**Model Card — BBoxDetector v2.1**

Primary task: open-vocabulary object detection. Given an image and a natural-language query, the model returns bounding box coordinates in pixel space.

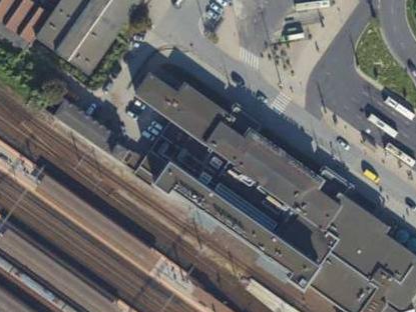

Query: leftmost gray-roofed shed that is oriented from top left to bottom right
[56,99,112,153]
